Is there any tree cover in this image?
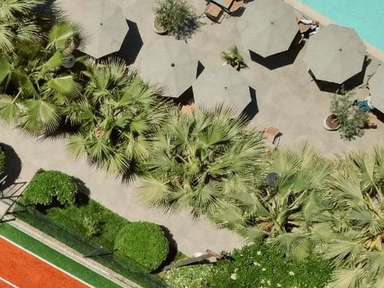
Yes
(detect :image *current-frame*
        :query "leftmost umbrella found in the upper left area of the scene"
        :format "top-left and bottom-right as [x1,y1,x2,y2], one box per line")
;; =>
[66,0,129,56]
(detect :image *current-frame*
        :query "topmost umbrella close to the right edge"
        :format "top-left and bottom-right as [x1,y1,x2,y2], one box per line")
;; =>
[300,21,367,81]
